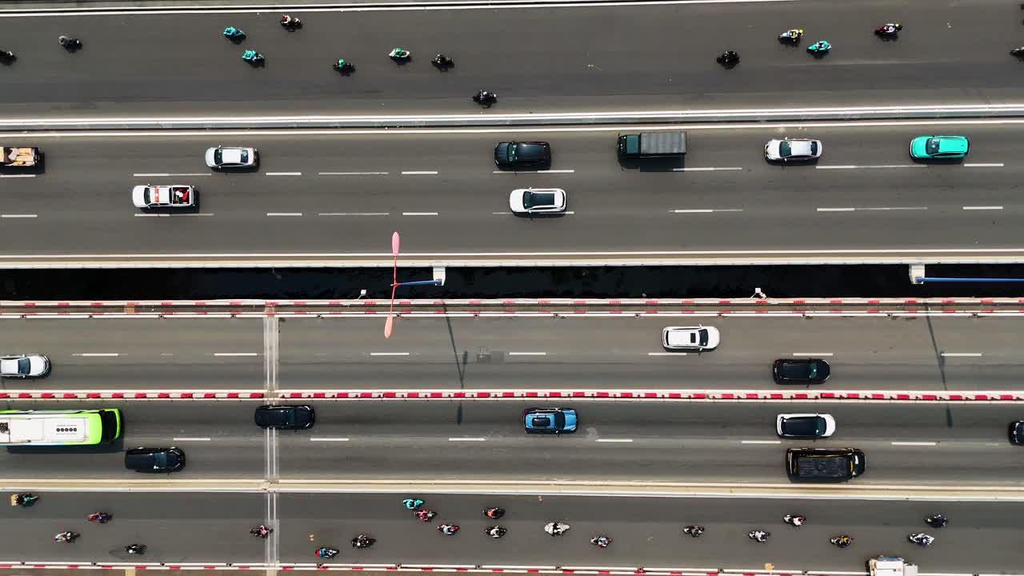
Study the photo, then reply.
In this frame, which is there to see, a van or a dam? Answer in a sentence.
I can see a van in this picture.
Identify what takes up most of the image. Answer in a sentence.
The scene is dominated by paved ground.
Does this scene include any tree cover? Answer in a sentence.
No, there's no tree cover in this view.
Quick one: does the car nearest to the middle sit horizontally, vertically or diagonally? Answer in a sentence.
The car nearest to the middle is laid out horizontally.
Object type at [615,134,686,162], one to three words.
truck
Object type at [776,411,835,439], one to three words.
car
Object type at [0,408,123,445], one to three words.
bus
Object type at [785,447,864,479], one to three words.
van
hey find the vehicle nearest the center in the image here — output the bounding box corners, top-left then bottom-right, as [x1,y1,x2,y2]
[510,186,566,214]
